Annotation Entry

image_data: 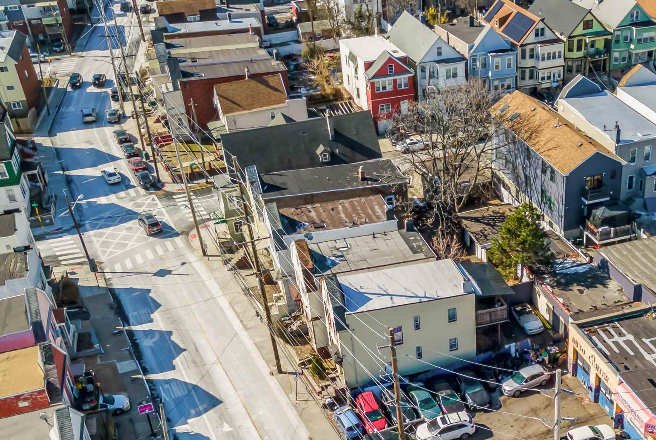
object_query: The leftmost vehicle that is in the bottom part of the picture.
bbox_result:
[56,303,104,329]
